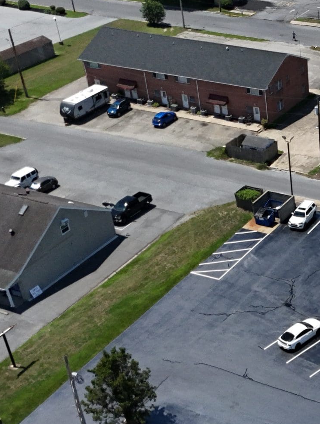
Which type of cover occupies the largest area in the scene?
paved ground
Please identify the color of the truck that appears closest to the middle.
black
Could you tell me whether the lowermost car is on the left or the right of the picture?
right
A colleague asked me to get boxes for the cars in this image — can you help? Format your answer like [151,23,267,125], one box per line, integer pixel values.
[270,319,320,354]
[284,198,319,230]
[105,98,135,117]
[29,173,67,195]
[150,112,179,129]
[1,161,45,188]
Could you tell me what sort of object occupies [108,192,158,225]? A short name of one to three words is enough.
truck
